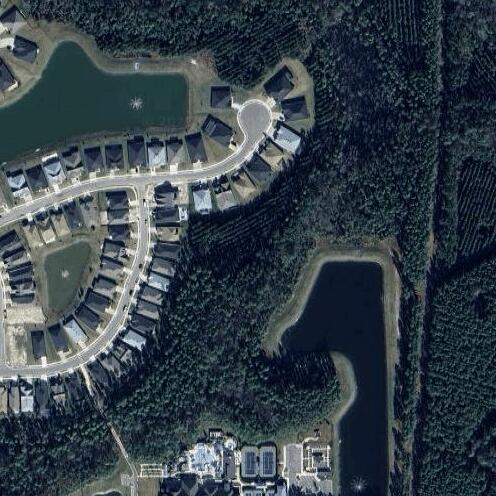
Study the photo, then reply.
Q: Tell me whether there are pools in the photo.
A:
Yes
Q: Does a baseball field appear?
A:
No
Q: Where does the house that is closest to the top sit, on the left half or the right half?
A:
left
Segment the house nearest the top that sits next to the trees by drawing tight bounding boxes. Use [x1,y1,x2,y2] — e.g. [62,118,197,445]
[0,4,27,29]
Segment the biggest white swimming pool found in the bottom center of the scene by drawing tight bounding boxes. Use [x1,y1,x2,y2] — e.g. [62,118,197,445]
[174,438,236,478]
